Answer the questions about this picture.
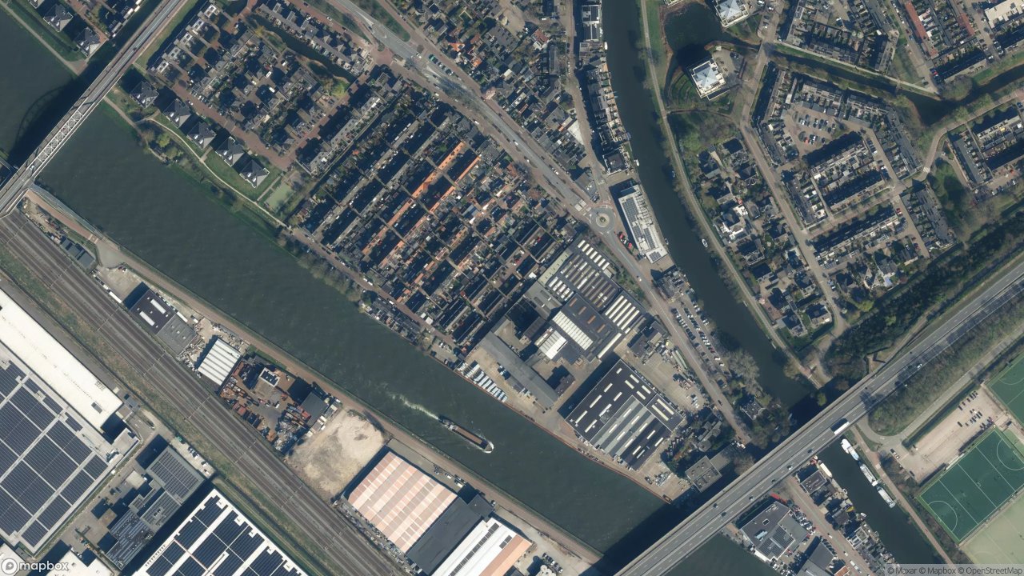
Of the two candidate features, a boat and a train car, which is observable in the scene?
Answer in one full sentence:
Of the two, only a boat appears.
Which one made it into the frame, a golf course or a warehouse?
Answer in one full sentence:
I can see a warehouse in this picture.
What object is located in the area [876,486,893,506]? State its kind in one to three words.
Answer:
boat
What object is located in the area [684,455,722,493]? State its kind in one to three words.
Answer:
building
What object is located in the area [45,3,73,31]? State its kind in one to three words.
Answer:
house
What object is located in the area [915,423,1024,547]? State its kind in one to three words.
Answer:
sports field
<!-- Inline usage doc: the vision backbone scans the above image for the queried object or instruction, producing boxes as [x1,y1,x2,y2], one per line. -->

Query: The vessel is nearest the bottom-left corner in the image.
[437,415,492,452]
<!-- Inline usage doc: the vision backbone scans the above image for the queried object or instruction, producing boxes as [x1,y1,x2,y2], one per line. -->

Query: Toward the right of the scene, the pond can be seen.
[664,4,758,100]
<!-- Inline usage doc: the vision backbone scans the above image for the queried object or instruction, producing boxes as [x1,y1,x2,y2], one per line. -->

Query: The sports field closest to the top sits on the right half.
[984,352,1024,423]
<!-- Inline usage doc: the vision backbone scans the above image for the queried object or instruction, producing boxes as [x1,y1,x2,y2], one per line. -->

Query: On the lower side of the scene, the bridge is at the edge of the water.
[612,250,1024,576]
